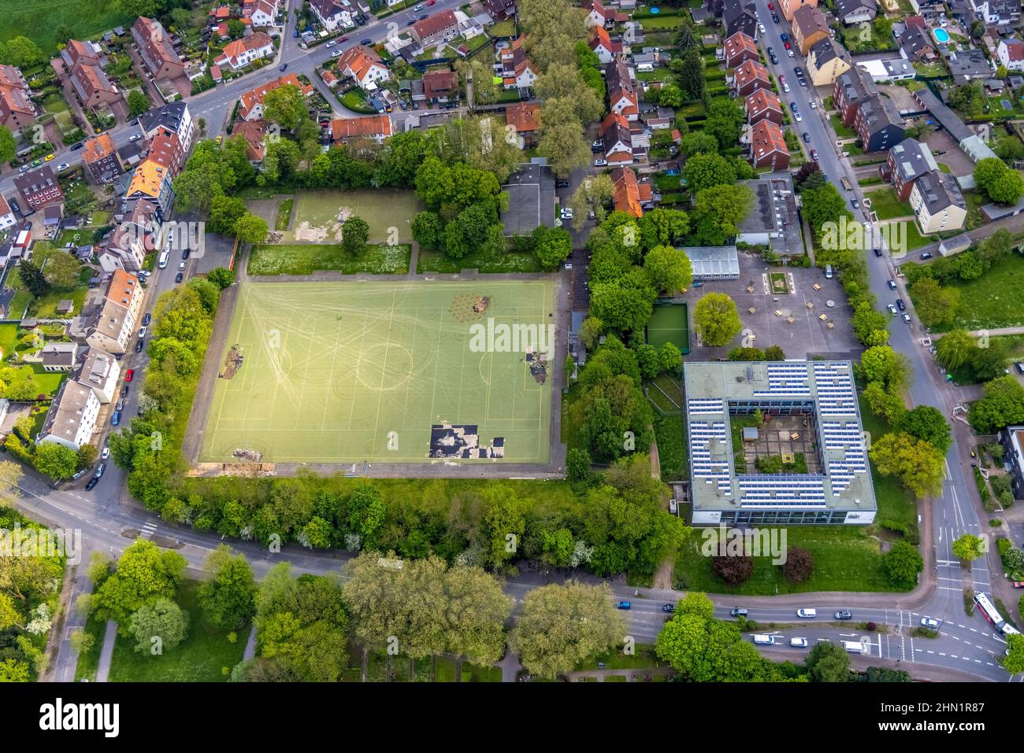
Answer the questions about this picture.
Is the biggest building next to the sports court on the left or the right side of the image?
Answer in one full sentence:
The biggest building next to the sports court is on the right side of the image.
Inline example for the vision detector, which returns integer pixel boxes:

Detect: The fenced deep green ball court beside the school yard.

[646,300,692,352]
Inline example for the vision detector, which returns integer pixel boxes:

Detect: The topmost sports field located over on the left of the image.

[288,190,429,242]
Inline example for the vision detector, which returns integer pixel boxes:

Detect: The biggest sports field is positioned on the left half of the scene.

[198,206,555,465]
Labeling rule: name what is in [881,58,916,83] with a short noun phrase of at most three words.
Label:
building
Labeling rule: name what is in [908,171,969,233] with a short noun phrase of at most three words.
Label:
house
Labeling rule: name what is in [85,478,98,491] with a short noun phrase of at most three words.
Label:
vehicle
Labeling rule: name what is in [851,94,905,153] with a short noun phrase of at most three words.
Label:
house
